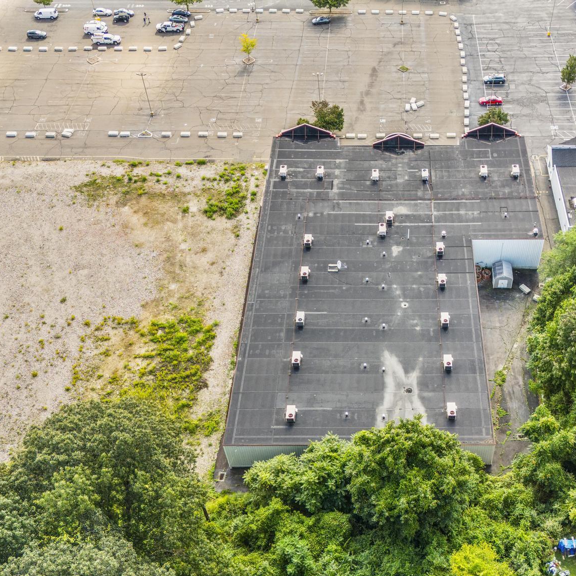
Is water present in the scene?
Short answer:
No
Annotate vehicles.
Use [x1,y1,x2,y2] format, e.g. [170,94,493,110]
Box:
[112,11,131,22]
[168,15,189,24]
[26,29,47,39]
[91,32,119,44]
[158,21,183,32]
[83,22,108,35]
[478,97,503,107]
[484,73,506,84]
[112,8,134,16]
[35,8,58,20]
[84,19,108,26]
[91,8,113,16]
[311,16,332,26]
[171,9,192,18]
